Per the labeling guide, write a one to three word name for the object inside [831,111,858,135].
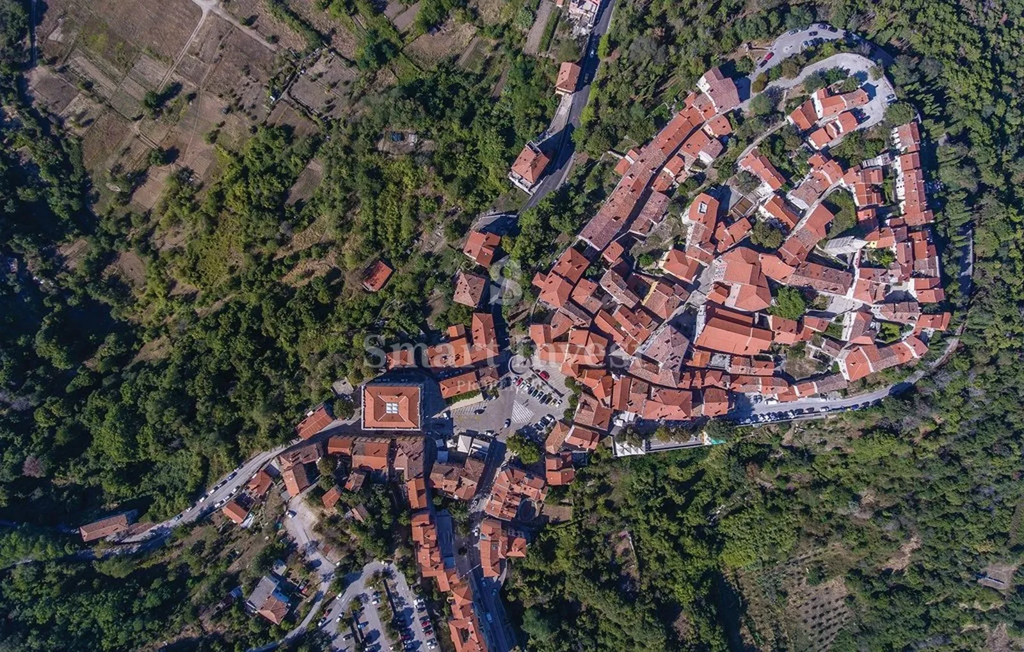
house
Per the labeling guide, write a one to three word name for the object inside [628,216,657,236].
house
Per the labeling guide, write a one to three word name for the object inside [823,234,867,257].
building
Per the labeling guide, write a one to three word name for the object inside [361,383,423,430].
building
